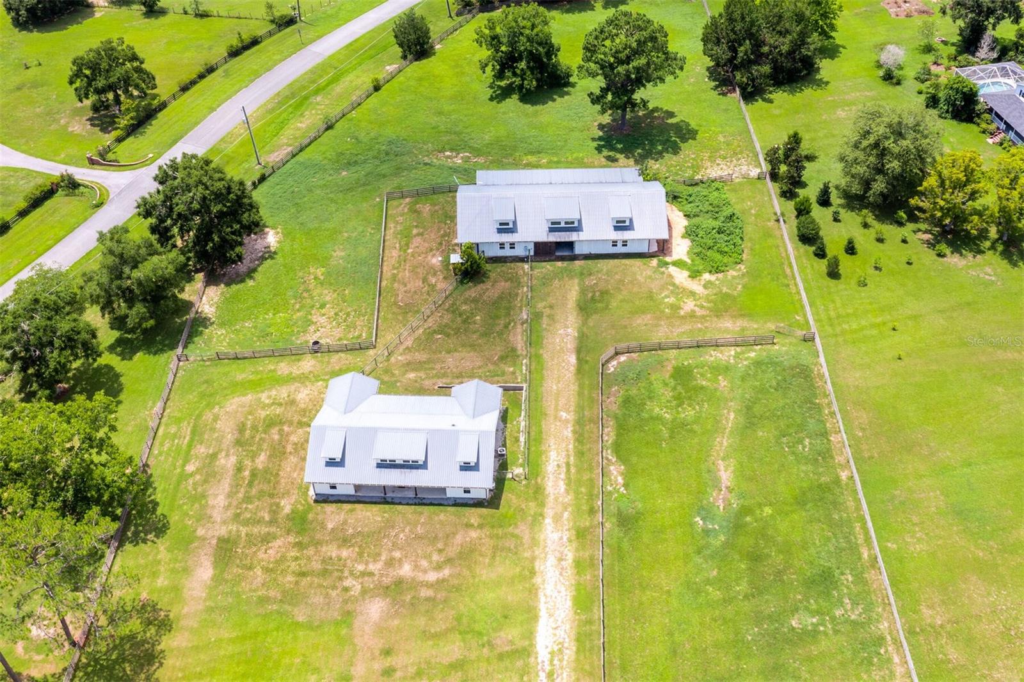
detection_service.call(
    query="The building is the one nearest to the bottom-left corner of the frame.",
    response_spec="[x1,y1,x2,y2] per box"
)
[304,369,502,506]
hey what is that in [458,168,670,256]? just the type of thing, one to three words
barn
